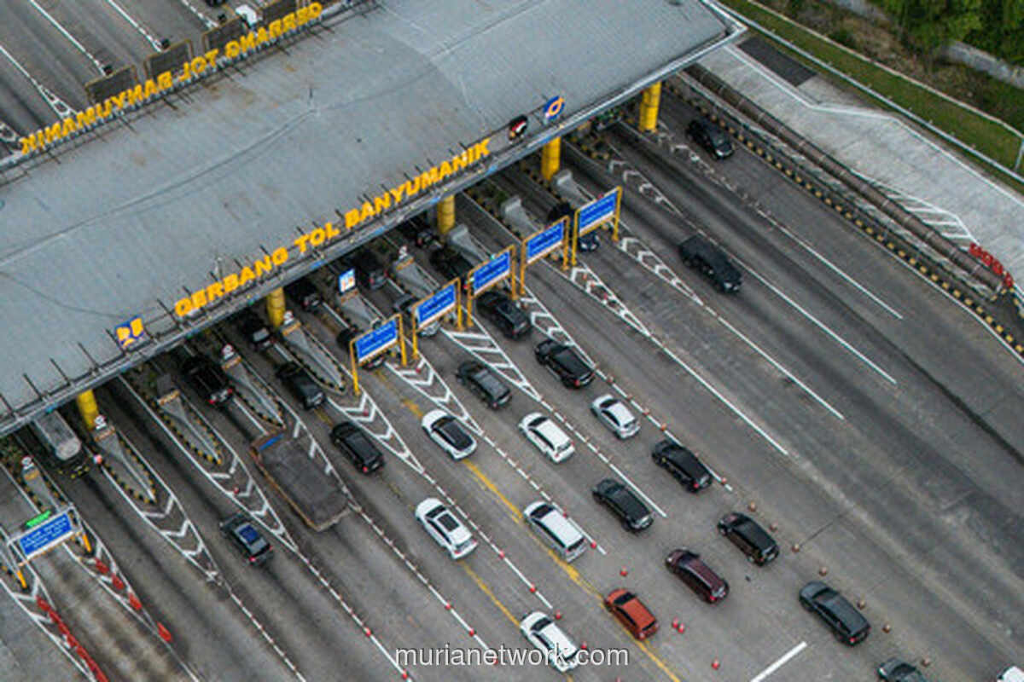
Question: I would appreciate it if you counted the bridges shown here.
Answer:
0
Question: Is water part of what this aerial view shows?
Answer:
No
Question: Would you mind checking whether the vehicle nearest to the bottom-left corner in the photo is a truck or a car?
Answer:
truck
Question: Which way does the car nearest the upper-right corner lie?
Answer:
diagonally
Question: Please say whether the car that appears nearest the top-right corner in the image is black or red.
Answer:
black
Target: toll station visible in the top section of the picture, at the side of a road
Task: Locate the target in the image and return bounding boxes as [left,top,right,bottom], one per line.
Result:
[0,0,745,441]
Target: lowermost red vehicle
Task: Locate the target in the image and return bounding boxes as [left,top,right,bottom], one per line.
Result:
[606,591,658,641]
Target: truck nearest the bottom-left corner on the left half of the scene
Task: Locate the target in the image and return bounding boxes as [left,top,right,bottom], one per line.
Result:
[30,413,94,481]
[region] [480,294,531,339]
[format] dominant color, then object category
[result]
black car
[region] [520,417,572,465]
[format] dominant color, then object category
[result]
white car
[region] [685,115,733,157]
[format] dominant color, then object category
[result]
black car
